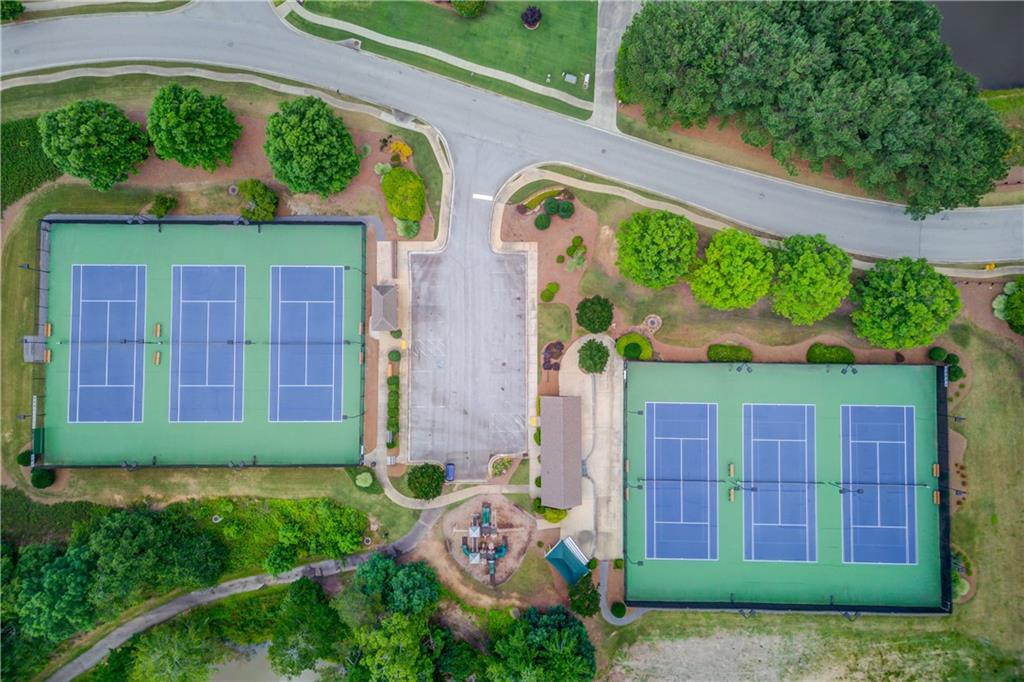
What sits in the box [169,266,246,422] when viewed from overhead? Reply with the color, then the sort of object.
blue tennis court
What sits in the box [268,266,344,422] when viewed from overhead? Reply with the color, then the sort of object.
blue tennis court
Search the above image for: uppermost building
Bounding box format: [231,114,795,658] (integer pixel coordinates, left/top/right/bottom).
[371,285,399,330]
